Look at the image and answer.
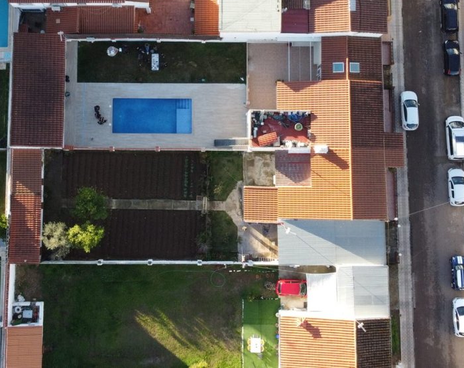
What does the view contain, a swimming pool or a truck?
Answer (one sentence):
Visible in the photo is a swimming pool.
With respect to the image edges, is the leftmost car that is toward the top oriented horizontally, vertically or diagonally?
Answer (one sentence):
The leftmost car that is toward the top is laid out vertically.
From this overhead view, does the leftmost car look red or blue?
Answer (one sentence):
From above, the leftmost car appears red.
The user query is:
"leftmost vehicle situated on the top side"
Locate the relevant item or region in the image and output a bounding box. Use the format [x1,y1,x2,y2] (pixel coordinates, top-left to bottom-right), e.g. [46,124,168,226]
[399,90,421,132]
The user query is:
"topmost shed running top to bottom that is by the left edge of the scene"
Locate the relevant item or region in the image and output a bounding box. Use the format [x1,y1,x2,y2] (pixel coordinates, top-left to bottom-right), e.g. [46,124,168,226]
[9,32,68,147]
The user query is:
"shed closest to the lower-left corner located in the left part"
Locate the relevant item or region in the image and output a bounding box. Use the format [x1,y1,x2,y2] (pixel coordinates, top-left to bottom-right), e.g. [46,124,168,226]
[5,323,46,368]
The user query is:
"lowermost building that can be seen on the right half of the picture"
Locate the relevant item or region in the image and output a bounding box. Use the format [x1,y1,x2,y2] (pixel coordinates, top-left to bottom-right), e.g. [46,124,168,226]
[272,300,393,368]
